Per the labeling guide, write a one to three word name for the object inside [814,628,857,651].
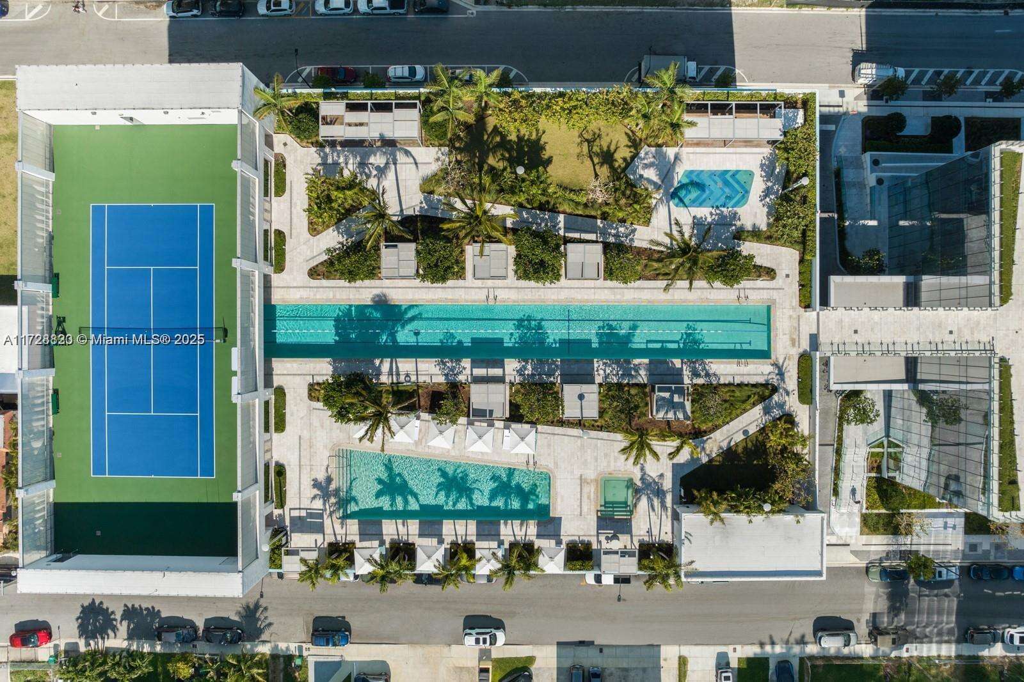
car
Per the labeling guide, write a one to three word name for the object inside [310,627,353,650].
car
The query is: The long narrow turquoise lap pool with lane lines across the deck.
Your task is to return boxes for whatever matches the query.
[263,298,776,362]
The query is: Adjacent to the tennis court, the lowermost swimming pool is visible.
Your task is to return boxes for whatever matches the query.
[333,444,555,524]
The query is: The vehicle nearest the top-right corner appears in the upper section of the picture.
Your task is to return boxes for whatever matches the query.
[853,60,903,85]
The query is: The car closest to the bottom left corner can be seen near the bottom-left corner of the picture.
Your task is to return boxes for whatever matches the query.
[10,626,54,649]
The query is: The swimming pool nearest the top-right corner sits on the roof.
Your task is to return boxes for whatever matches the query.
[672,170,753,207]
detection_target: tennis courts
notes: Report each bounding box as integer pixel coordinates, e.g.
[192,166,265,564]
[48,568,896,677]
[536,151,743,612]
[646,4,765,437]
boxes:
[53,126,247,556]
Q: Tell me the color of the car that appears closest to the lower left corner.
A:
red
